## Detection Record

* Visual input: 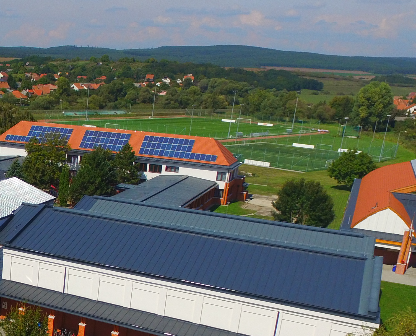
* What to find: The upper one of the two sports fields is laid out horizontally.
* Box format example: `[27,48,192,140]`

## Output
[37,120,308,136]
